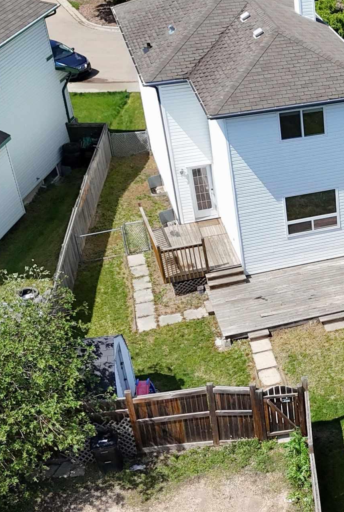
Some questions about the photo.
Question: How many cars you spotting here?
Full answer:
Only 1 car is visible.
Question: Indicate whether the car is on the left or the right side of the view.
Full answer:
The car is on the left side of the image.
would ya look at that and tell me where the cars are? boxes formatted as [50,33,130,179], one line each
[49,30,89,70]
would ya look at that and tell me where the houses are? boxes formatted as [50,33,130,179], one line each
[0,0,83,235]
[103,0,344,276]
